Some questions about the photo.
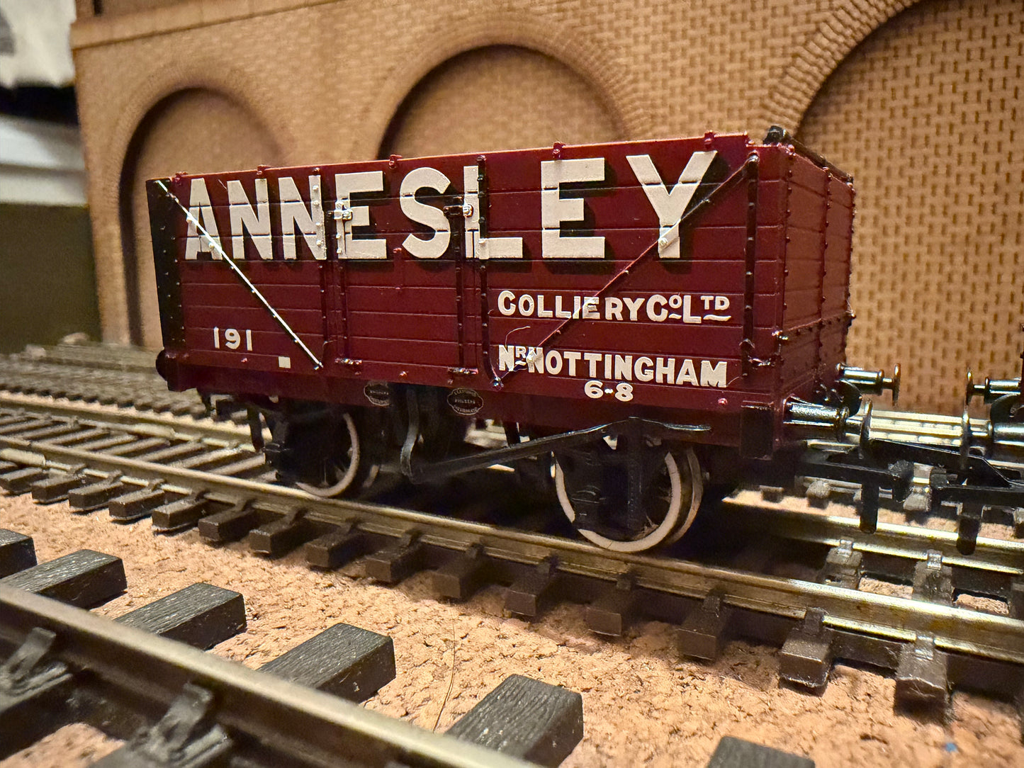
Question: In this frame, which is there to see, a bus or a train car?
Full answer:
Looking from above, you can make out a train car.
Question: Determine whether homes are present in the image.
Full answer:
No, the frame has no home in it.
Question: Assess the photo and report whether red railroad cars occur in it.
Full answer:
Yes, the frame does contain a red railroad car.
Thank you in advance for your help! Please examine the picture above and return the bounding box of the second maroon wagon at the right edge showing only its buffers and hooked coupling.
[873,294,1024,549]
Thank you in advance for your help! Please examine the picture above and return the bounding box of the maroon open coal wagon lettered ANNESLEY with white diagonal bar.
[146,125,912,551]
